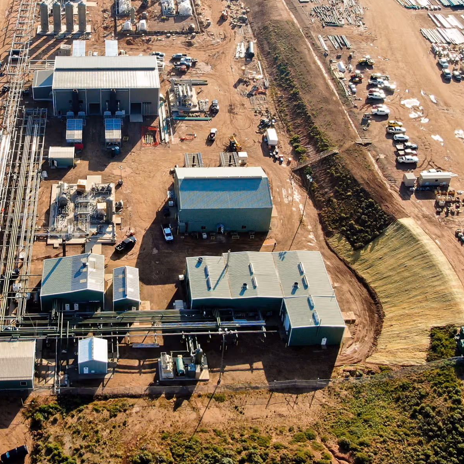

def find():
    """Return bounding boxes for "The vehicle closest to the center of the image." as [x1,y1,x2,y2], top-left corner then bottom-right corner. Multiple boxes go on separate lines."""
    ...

[160,220,175,242]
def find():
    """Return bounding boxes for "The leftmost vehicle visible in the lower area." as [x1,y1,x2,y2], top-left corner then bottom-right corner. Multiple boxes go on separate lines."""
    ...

[0,439,32,462]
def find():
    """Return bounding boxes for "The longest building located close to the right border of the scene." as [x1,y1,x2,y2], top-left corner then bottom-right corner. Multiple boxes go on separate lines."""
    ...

[416,172,453,187]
